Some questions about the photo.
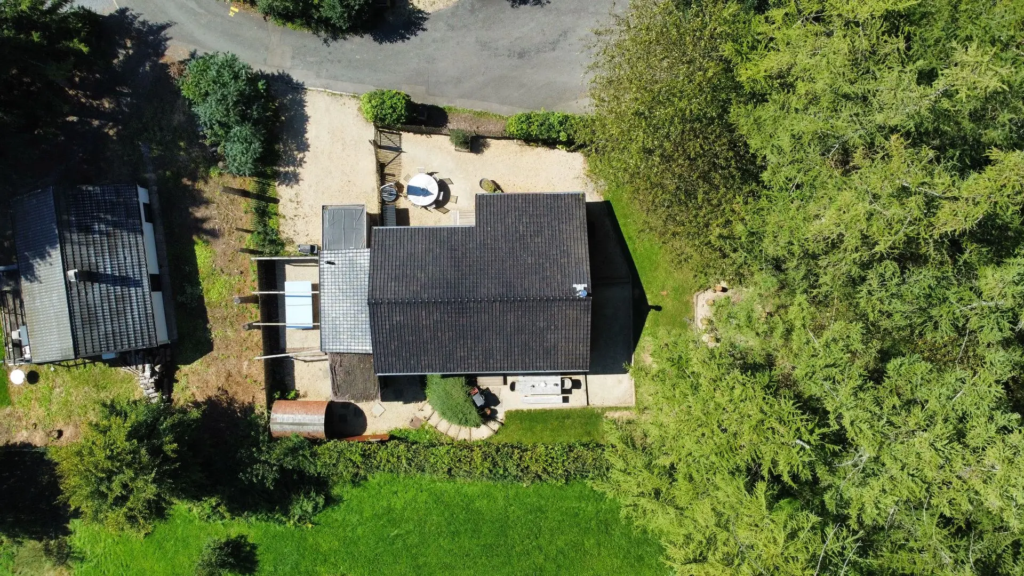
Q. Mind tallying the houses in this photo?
two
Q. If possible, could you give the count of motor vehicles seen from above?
0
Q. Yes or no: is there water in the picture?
No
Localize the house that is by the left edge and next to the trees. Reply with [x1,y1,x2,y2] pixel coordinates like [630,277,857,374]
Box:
[9,182,172,364]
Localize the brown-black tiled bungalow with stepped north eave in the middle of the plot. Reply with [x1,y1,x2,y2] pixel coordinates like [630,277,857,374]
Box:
[366,191,593,374]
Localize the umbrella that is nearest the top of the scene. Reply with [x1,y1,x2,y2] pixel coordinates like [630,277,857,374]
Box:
[380,181,409,201]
